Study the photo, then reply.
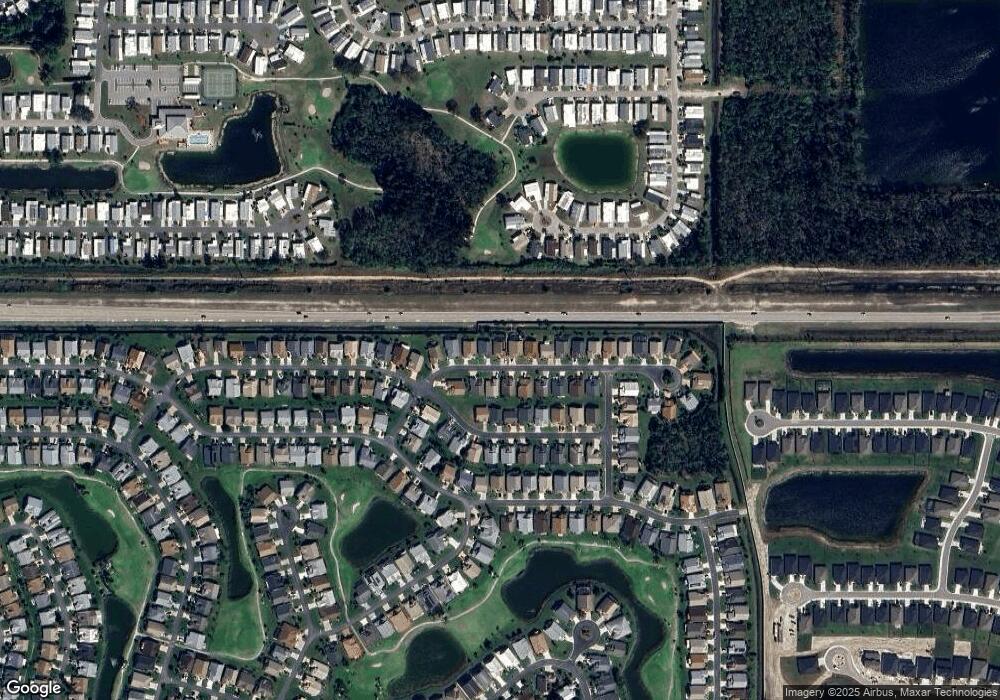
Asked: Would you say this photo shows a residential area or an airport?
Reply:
residential area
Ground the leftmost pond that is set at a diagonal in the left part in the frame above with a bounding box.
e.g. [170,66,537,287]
[0,474,118,560]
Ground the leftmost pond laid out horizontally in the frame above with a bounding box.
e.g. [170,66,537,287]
[0,163,118,192]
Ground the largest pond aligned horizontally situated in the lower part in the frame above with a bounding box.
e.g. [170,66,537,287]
[764,471,927,542]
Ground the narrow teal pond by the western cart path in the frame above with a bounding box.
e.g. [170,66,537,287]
[94,594,138,700]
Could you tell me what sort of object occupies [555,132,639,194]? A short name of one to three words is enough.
pond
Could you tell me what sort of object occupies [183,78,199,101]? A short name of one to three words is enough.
building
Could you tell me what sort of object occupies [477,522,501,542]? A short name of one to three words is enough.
house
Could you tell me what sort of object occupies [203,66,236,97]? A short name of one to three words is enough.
tennis court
